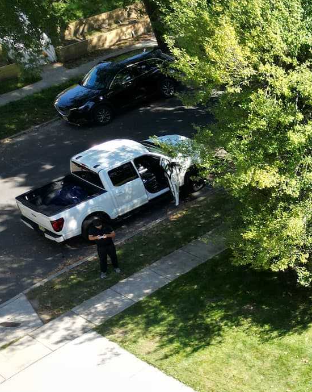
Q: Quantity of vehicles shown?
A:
2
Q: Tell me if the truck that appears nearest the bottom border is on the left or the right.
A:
left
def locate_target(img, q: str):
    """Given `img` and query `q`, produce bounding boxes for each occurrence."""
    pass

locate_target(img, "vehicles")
[4,132,213,243]
[52,44,183,123]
